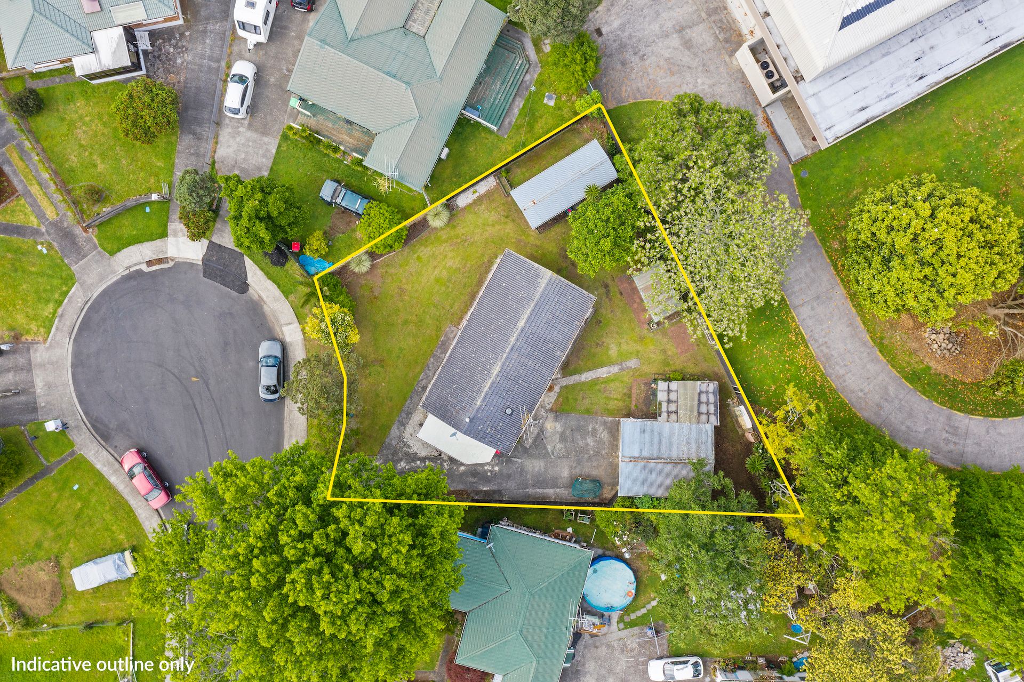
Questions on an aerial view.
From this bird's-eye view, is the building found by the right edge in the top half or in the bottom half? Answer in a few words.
top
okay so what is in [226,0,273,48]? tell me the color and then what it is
white camper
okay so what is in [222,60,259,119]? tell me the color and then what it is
white car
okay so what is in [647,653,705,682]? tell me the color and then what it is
white car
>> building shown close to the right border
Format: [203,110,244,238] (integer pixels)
[728,0,1024,153]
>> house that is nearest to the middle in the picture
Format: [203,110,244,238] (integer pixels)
[417,248,597,464]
